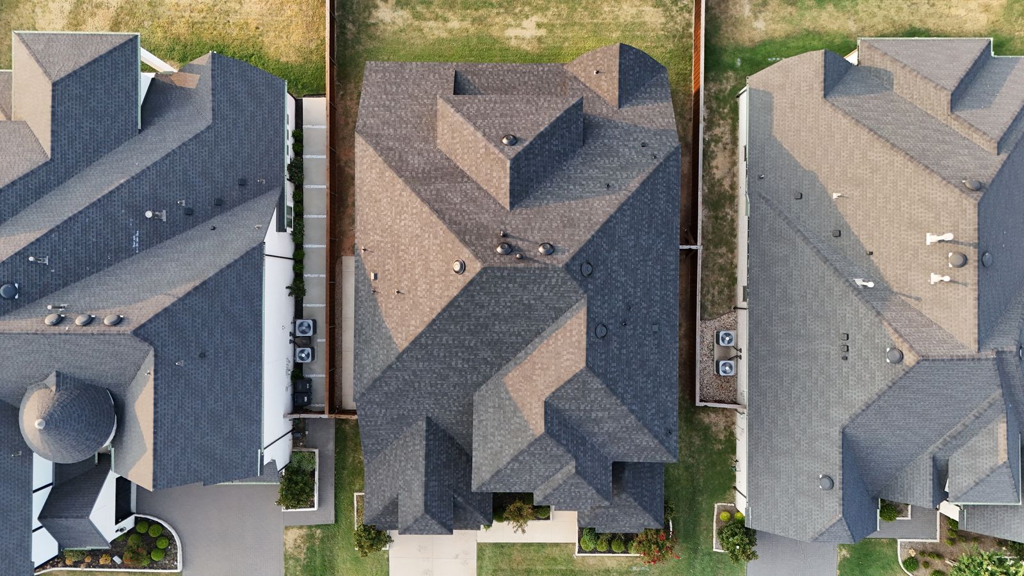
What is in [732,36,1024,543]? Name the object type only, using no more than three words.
house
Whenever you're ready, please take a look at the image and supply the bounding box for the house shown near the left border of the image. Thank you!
[0,31,301,576]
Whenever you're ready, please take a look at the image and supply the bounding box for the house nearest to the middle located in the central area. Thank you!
[353,41,681,536]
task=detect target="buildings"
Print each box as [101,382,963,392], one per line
[0,31,301,576]
[353,41,681,536]
[732,36,1024,543]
